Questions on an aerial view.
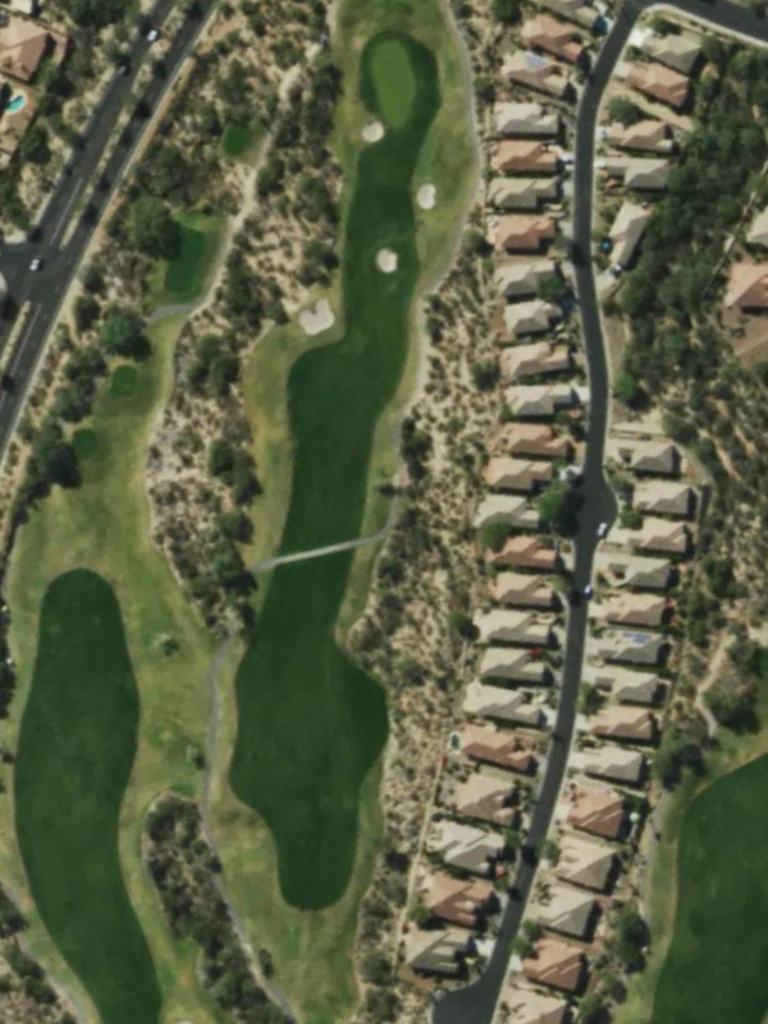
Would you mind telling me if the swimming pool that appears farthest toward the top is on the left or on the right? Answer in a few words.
left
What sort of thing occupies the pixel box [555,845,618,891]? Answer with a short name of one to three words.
house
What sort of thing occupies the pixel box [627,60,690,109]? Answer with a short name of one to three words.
house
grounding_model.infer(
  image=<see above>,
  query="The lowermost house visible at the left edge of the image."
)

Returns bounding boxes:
[0,16,49,80]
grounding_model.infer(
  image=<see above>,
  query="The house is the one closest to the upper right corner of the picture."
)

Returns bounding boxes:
[648,28,705,78]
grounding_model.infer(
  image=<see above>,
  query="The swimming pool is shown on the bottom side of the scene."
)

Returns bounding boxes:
[449,732,461,753]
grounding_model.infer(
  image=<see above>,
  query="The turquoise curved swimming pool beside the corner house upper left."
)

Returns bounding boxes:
[6,92,27,113]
